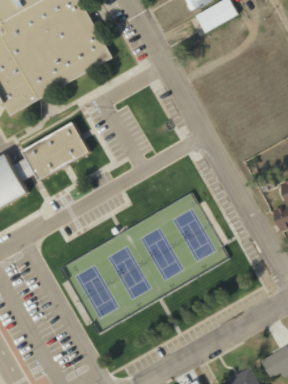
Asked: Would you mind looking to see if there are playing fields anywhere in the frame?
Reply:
Yes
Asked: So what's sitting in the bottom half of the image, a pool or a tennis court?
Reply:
tennis court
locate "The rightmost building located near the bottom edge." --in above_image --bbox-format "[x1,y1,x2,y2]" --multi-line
[262,348,288,378]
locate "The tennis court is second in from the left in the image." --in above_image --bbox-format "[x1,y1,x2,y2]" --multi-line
[109,246,151,300]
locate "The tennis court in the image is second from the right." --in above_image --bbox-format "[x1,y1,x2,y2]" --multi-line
[141,228,182,280]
